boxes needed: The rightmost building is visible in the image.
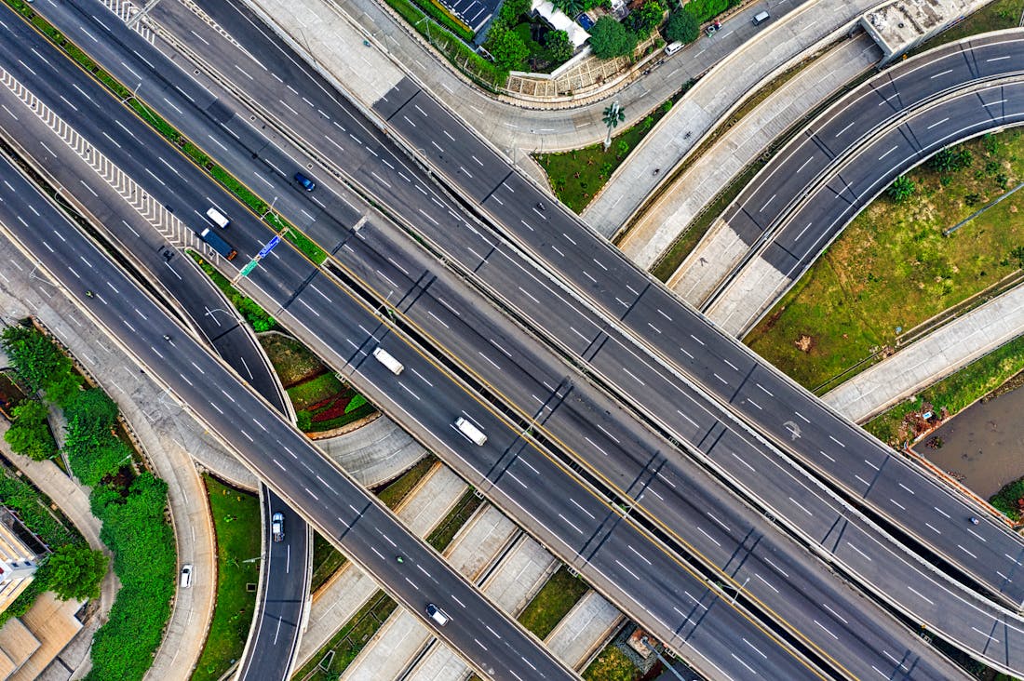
[848,0,983,71]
